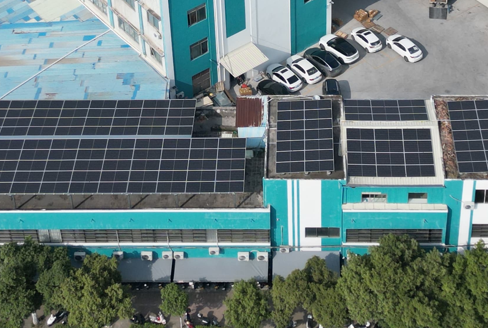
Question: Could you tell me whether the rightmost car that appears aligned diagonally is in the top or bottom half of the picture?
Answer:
top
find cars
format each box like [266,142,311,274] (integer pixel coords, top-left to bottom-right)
[384,34,424,64]
[301,46,343,77]
[318,34,359,65]
[284,52,322,83]
[348,26,385,54]
[264,61,306,92]
[255,78,296,97]
[322,81,343,95]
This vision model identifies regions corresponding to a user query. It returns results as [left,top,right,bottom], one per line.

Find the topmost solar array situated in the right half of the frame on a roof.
[344,98,429,117]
